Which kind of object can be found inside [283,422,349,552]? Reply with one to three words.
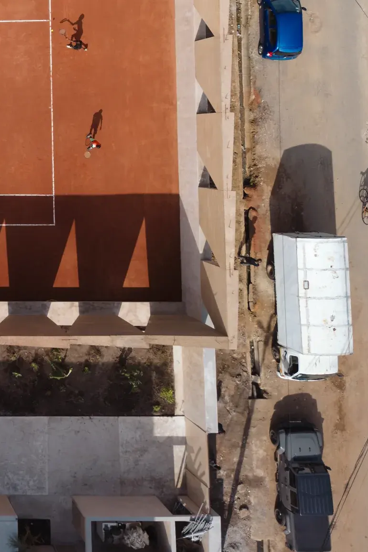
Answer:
truck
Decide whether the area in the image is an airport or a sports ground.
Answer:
sports ground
